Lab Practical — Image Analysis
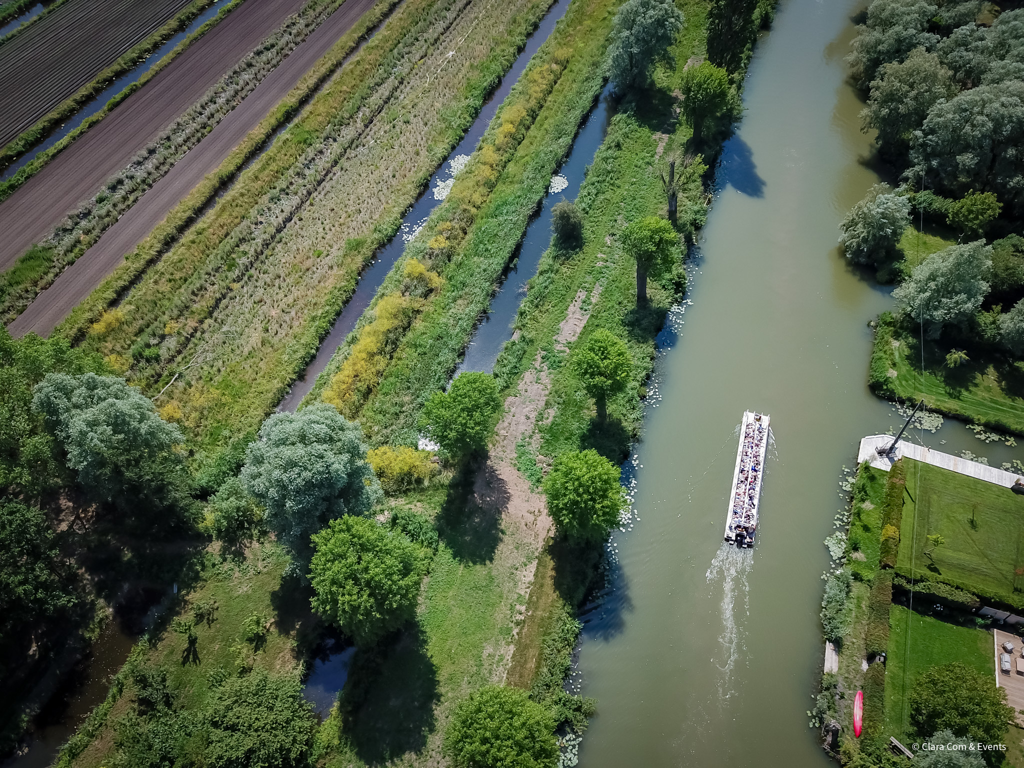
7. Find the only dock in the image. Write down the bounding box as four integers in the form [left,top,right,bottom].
[856,433,1024,487]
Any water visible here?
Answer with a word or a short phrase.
Yes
